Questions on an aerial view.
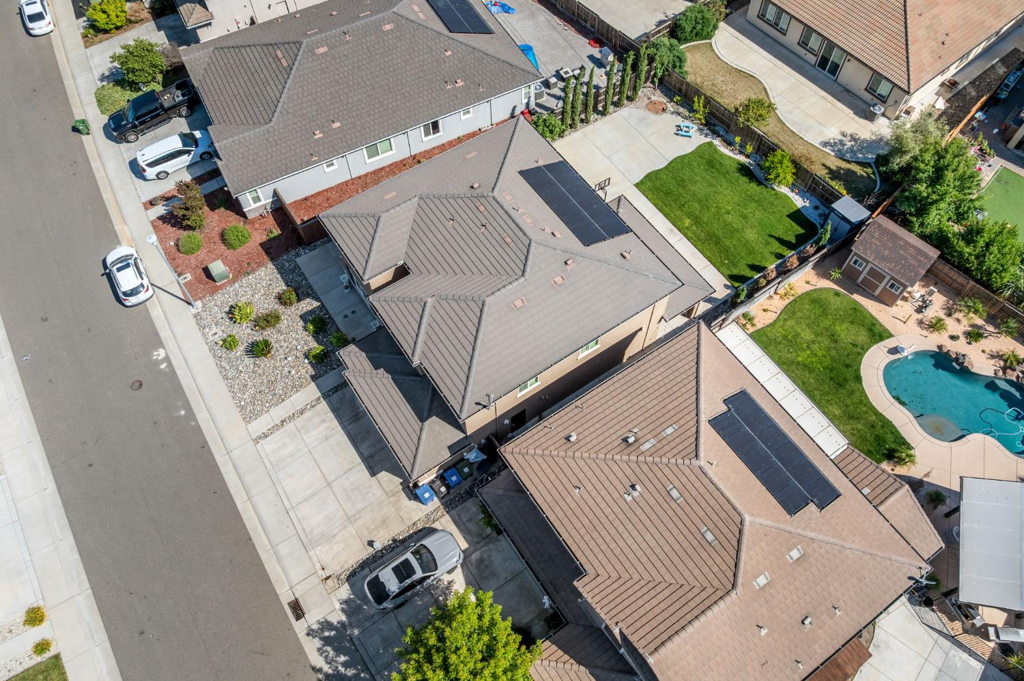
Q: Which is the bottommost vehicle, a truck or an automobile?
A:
automobile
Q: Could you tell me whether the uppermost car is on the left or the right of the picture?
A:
left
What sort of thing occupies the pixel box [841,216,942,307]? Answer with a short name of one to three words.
shed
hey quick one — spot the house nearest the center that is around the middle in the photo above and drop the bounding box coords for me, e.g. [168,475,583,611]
[316,115,718,490]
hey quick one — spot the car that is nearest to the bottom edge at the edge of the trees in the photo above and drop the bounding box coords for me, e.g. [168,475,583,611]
[362,535,468,606]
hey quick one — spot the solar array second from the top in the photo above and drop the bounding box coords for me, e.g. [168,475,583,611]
[516,160,628,246]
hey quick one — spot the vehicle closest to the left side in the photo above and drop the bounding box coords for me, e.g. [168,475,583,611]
[18,0,57,37]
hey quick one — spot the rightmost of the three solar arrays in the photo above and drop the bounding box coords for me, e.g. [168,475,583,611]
[707,388,843,514]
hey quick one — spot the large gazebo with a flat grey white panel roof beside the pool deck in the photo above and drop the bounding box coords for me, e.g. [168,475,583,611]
[936,479,1024,613]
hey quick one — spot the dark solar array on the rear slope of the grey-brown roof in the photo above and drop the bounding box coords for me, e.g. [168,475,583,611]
[429,0,496,32]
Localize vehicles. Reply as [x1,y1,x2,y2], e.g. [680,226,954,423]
[102,79,199,142]
[107,248,159,315]
[18,0,57,37]
[129,129,216,180]
[362,535,468,606]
